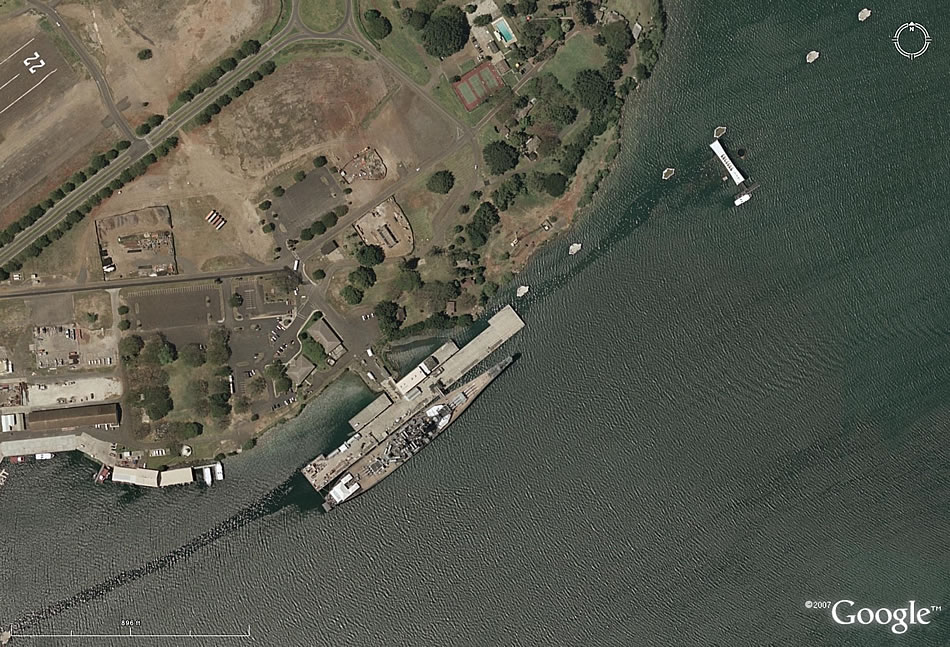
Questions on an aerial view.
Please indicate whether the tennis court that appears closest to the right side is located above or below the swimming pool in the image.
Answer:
below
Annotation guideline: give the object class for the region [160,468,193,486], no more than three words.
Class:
building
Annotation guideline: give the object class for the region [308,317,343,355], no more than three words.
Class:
building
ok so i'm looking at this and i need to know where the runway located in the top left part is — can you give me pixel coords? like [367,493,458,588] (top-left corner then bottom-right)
[0,25,81,123]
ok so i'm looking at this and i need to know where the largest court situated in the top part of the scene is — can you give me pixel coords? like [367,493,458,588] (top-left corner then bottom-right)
[453,61,506,110]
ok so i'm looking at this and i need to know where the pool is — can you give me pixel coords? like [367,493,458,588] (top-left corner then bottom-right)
[492,17,517,47]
